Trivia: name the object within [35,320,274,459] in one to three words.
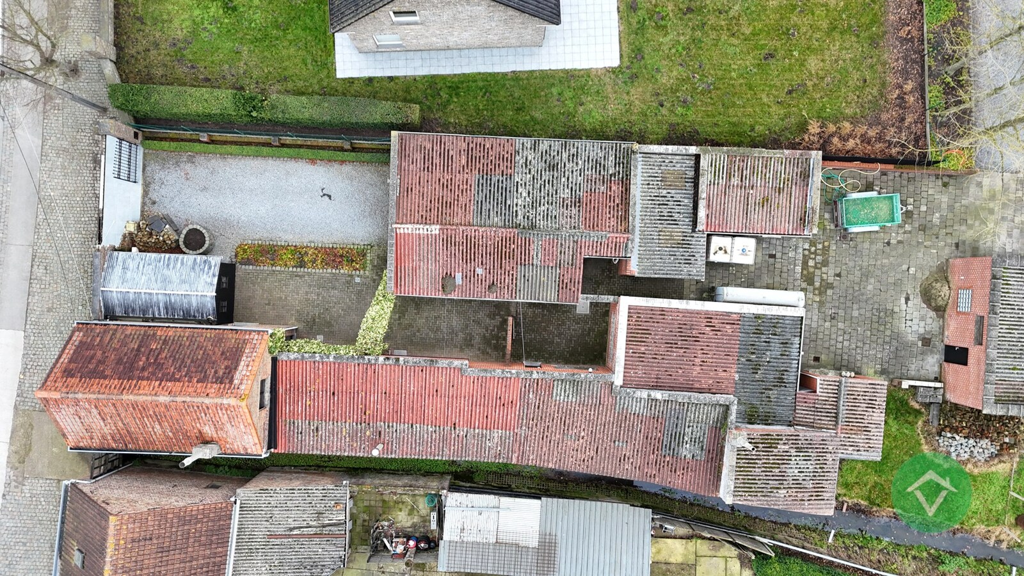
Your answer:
house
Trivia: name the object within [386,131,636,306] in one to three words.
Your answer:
barn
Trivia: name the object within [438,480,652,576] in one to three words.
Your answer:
shed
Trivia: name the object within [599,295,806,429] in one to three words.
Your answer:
building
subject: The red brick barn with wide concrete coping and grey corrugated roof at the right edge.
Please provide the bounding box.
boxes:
[942,255,1024,416]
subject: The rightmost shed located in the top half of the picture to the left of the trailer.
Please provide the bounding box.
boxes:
[695,146,822,241]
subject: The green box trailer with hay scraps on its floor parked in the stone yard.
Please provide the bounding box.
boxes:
[829,190,910,234]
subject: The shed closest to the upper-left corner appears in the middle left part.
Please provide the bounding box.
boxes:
[99,250,236,320]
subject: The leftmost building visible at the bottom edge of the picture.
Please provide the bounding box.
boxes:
[60,459,253,576]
